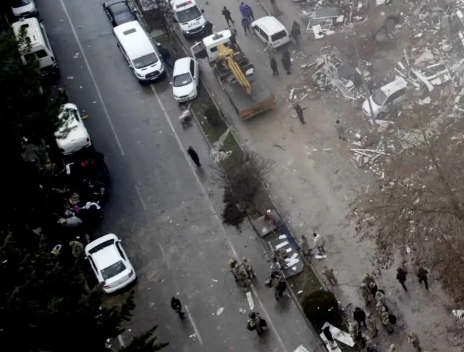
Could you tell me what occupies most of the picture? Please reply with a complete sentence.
The scene is dominated by paved ground.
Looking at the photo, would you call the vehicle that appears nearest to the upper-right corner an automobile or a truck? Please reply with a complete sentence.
What you see as the vehicle that appears nearest to the upper-right corner is an automobile.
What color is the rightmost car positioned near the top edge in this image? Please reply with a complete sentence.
In this view, the rightmost car positioned near the top edge is white.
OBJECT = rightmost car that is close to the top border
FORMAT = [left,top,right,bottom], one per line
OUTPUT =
[252,15,293,52]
